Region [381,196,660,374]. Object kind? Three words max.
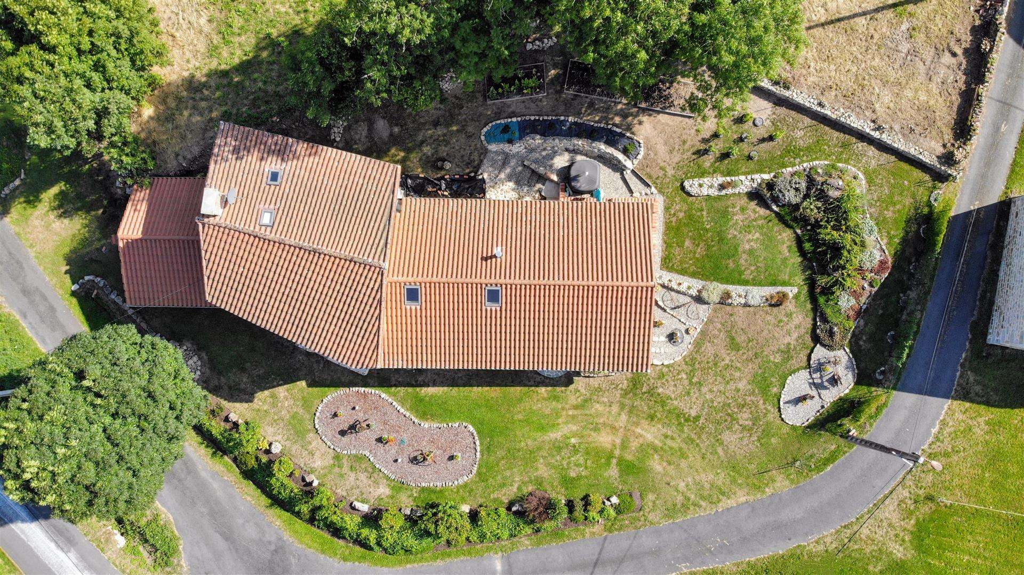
house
